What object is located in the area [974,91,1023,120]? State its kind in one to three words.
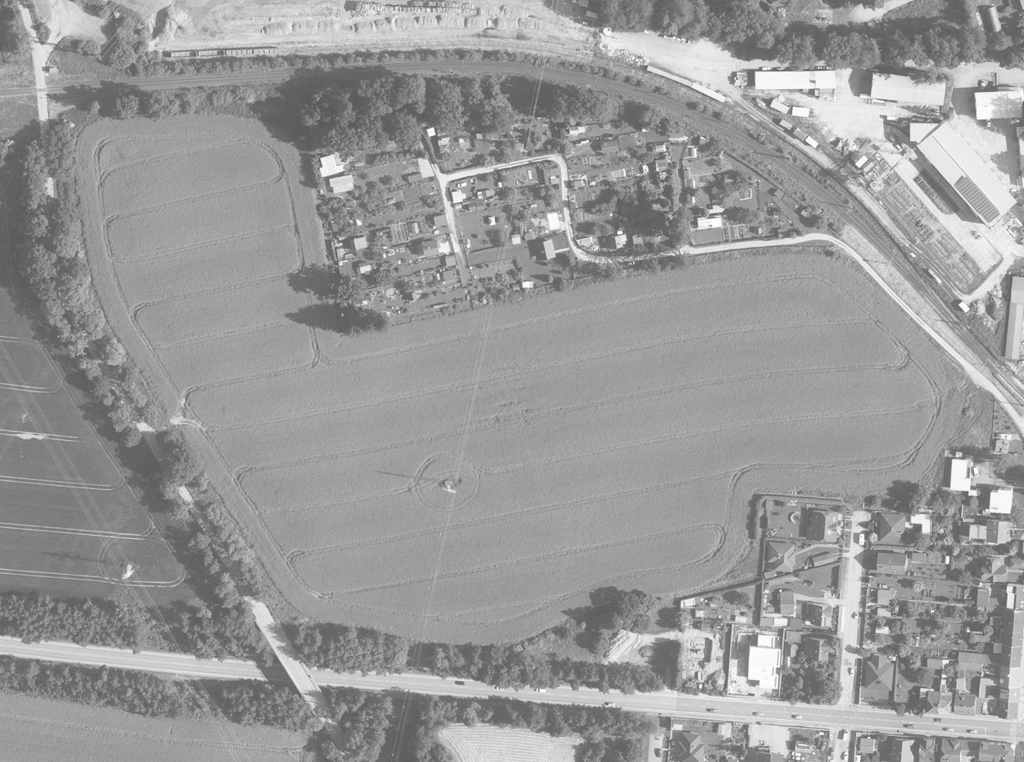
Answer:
building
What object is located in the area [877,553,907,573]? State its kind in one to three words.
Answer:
house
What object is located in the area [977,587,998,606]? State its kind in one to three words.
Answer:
shed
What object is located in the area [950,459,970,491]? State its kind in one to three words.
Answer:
house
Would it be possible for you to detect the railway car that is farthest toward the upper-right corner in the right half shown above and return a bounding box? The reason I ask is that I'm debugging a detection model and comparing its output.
[692,81,727,103]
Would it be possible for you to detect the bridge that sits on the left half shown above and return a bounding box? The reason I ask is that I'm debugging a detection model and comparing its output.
[251,599,324,711]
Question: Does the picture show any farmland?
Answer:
Yes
